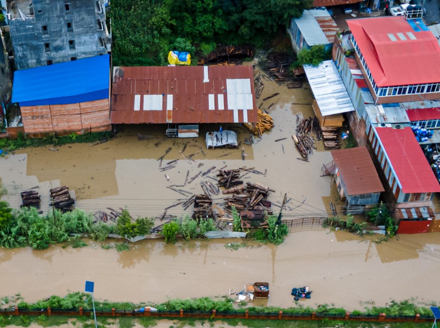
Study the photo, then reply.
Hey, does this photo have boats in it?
No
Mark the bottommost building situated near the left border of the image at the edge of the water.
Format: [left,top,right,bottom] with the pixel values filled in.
[13,54,111,131]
